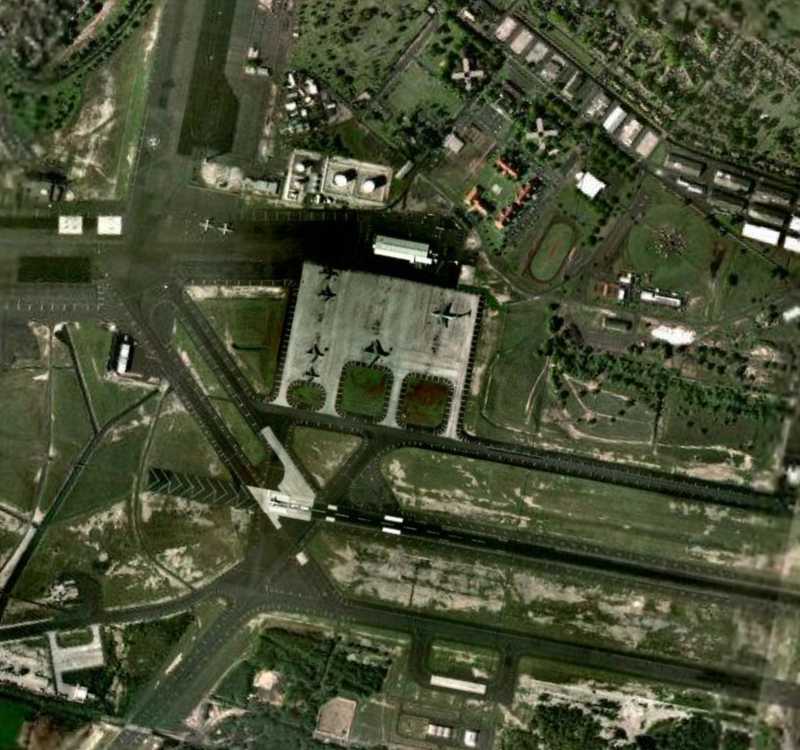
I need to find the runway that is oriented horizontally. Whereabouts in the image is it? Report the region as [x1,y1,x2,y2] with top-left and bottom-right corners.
[243,426,800,609]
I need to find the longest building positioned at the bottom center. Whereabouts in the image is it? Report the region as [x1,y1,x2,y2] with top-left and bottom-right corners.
[430,675,487,695]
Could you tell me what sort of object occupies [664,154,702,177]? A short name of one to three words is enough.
shed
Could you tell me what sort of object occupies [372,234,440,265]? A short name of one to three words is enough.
hangar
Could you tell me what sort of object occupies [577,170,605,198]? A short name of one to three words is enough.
building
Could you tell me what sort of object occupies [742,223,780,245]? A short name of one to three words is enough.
shed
